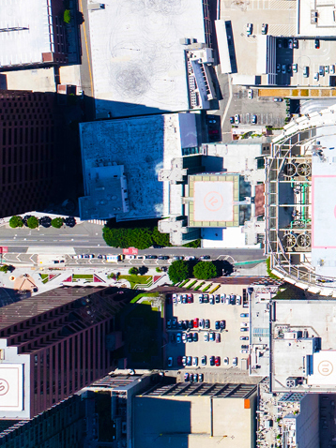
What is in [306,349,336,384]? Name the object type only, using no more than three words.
helipad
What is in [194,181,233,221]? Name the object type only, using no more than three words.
helipad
